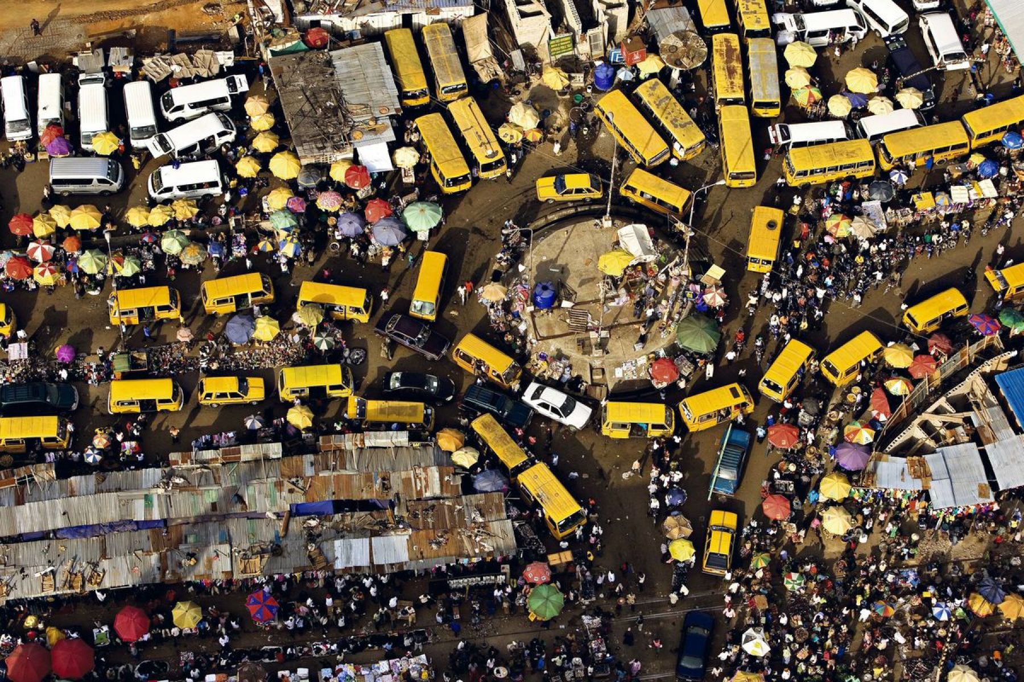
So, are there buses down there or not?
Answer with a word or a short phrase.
Yes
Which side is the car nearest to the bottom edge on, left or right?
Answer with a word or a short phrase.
right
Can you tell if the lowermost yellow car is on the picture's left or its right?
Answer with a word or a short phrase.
right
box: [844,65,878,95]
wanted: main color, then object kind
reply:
yellow umbrella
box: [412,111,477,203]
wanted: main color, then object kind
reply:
yellow bus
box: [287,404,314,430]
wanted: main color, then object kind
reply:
yellow umbrella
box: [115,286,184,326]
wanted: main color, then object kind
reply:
yellow vehicle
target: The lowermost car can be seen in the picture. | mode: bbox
[673,616,714,682]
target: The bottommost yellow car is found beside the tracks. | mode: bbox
[701,505,739,576]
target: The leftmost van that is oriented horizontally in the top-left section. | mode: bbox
[49,159,130,196]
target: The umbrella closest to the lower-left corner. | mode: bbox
[7,643,51,682]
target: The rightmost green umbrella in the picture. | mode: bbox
[999,308,1024,334]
